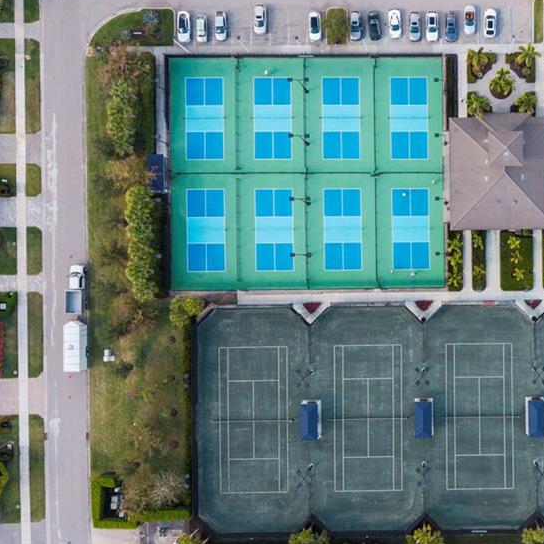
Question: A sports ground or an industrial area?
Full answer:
The area seen from above is a sports ground.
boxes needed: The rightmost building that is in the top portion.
[449,113,544,230]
